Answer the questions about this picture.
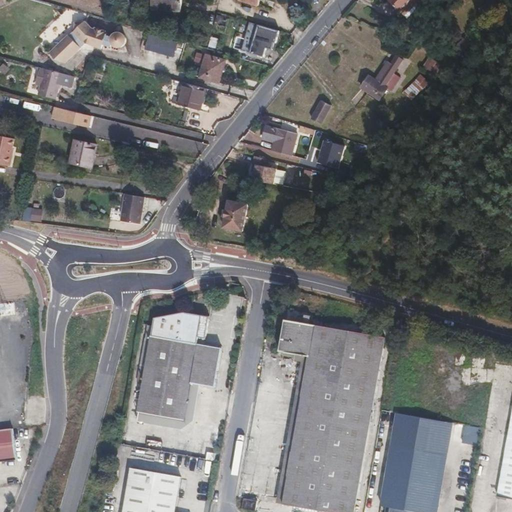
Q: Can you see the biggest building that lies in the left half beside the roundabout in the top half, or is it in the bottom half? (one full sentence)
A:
The biggest building that lies in the left half beside the roundabout is in the bottom half of the image.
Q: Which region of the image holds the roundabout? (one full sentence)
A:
The roundabout appears toward the left of the photo.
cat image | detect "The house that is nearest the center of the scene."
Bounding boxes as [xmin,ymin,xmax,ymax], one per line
[220,200,248,232]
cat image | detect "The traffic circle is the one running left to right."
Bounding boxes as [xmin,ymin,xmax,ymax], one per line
[46,238,193,306]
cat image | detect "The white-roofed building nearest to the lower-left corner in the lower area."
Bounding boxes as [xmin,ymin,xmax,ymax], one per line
[121,468,182,512]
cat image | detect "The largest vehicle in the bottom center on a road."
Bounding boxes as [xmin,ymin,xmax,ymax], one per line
[232,435,245,476]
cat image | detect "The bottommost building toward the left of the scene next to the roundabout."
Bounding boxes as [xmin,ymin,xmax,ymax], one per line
[137,312,222,429]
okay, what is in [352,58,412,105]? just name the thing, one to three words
house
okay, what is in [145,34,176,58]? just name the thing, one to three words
barn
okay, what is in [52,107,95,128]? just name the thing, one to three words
shed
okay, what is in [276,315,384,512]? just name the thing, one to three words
building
